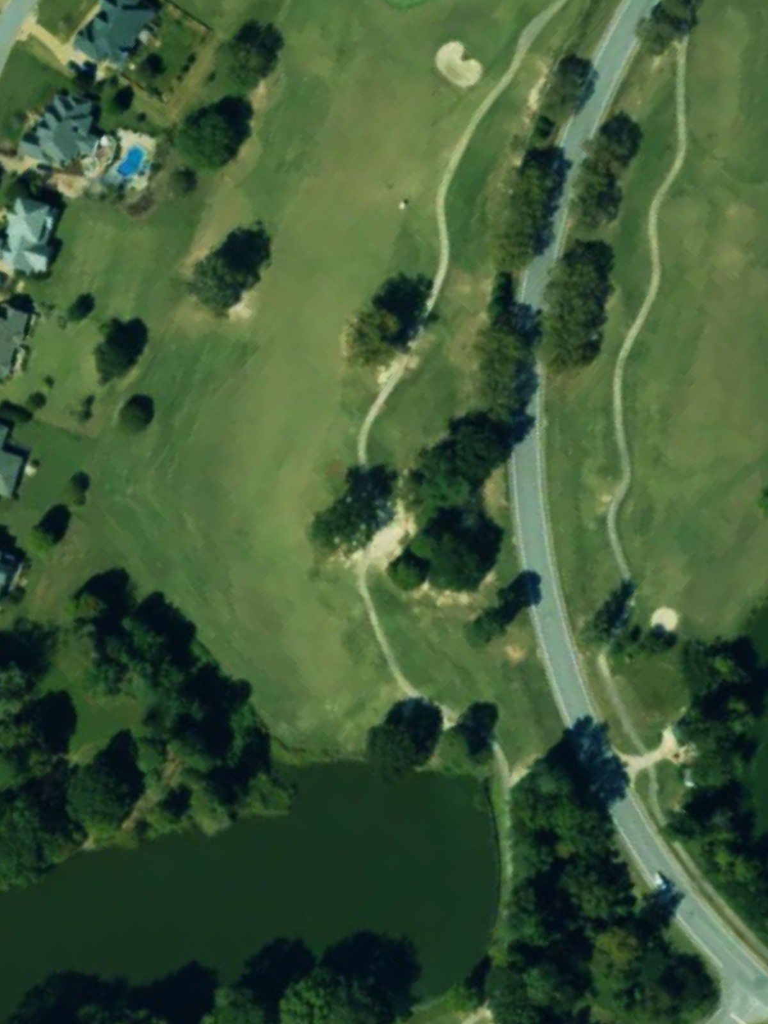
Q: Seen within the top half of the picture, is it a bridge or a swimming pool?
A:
swimming pool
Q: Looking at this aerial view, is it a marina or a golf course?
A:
golf course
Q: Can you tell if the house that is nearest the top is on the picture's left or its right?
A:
left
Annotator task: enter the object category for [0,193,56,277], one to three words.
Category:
house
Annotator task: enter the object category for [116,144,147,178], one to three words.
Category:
swimming pool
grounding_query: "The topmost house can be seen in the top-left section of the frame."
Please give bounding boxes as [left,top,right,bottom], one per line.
[75,0,160,67]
